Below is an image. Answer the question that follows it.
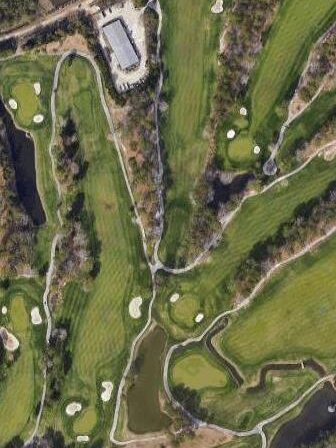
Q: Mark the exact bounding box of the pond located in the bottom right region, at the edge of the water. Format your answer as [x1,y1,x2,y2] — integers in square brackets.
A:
[270,380,336,448]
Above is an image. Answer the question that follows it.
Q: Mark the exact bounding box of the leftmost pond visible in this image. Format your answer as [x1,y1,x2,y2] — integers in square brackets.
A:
[0,102,47,226]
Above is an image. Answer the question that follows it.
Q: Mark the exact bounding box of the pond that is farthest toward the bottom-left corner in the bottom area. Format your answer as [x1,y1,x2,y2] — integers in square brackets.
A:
[126,324,172,433]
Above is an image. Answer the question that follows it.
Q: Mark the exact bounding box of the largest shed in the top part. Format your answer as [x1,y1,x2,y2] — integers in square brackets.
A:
[103,20,139,68]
